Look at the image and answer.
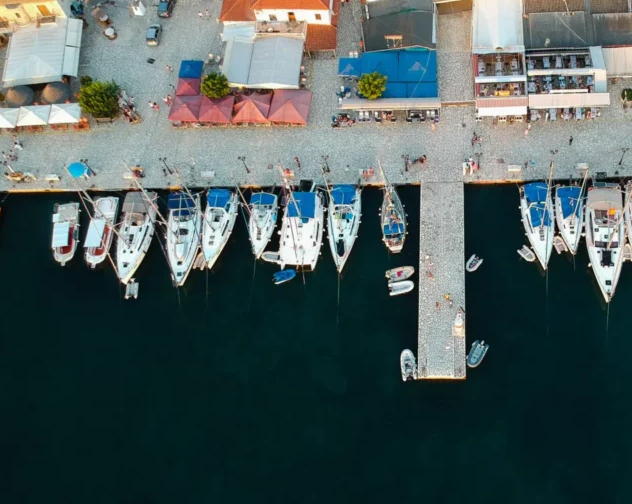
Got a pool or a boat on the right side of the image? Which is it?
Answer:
boat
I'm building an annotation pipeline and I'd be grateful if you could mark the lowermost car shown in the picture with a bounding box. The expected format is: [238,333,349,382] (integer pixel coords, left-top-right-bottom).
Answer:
[145,26,160,46]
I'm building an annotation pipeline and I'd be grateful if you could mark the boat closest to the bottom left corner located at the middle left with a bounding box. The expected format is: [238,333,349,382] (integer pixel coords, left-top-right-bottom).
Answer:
[125,282,137,300]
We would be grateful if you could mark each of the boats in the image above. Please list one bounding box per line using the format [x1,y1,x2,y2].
[467,253,483,271]
[467,338,493,368]
[378,165,406,258]
[517,243,536,261]
[129,161,204,288]
[386,281,414,296]
[71,164,163,295]
[236,178,280,268]
[321,161,365,275]
[555,236,570,256]
[125,282,137,300]
[173,164,239,272]
[401,350,417,383]
[624,242,632,262]
[384,266,414,281]
[585,167,632,307]
[51,192,83,268]
[555,169,589,257]
[272,270,296,285]
[275,159,324,289]
[193,250,205,271]
[520,156,559,272]
[84,190,122,271]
